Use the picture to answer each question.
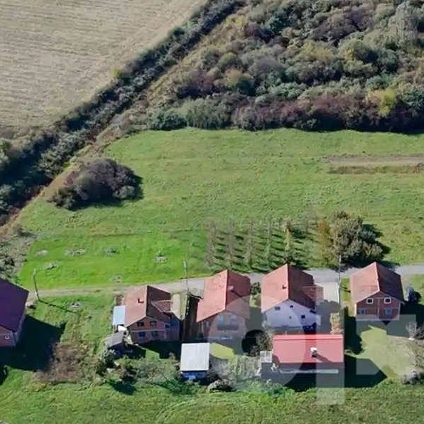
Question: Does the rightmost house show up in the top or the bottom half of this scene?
bottom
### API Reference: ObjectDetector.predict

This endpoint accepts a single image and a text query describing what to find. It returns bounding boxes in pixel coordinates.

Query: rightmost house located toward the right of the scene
[352,262,404,322]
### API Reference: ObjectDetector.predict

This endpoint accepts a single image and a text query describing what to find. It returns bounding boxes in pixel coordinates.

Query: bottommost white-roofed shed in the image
[179,345,211,377]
